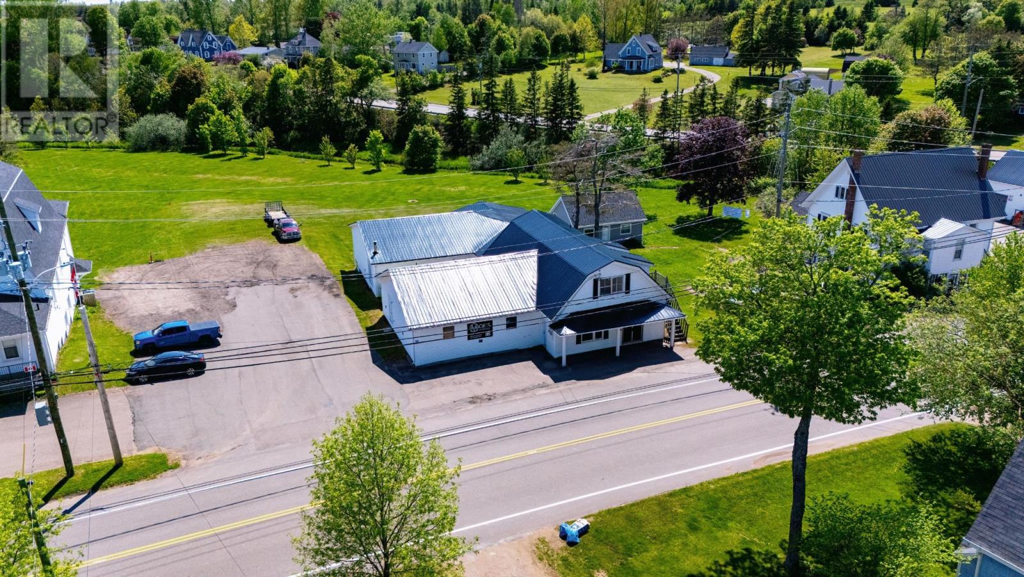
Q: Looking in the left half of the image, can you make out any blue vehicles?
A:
Yes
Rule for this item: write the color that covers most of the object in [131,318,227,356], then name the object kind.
blue truck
